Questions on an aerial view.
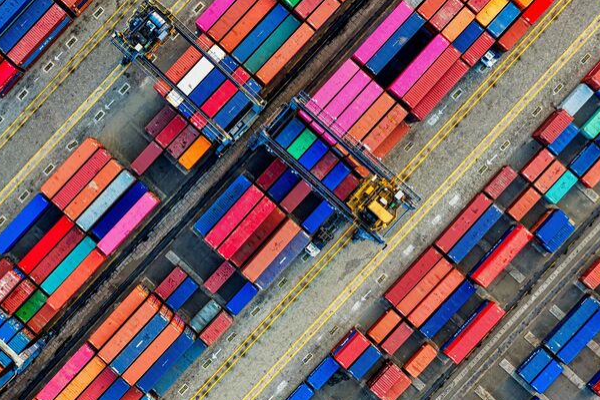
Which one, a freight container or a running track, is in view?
freight container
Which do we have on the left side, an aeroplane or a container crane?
container crane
